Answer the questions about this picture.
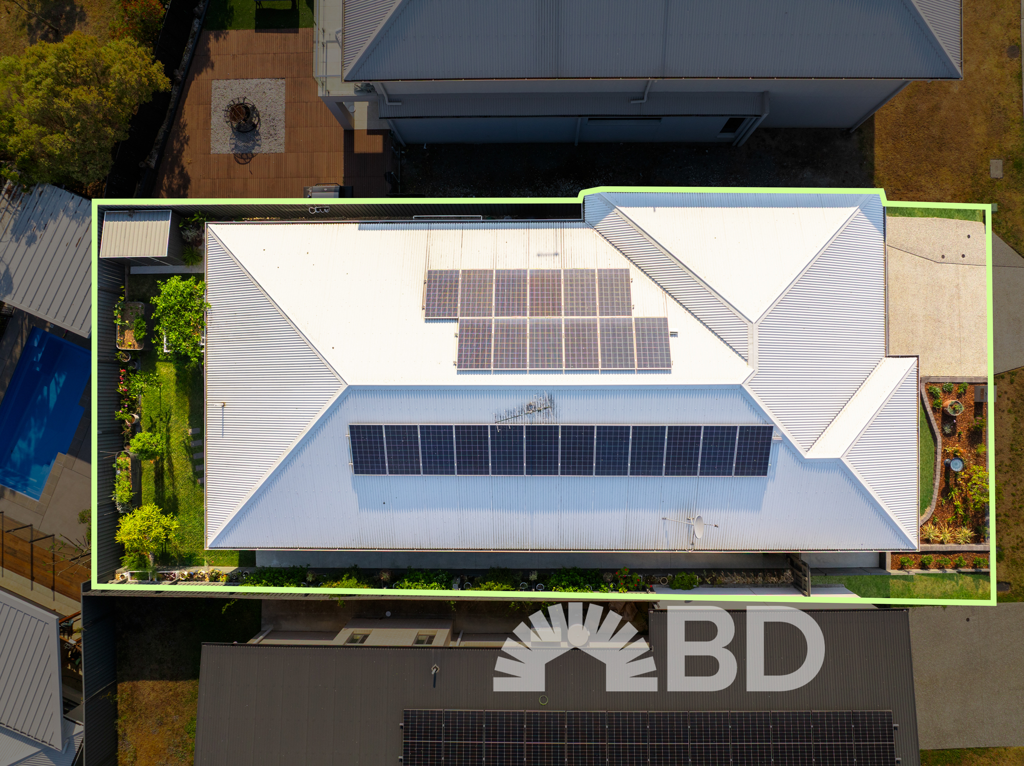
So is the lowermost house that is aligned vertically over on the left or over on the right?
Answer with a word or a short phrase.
left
